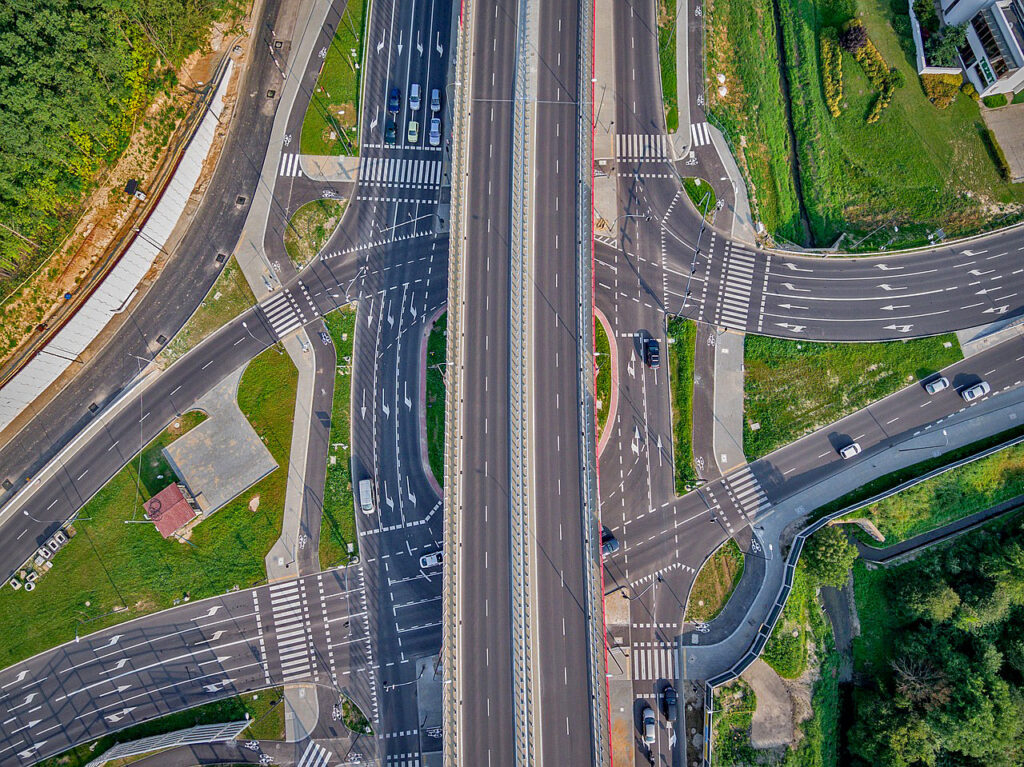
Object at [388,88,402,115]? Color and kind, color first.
blue car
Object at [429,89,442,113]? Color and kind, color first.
blue vehicle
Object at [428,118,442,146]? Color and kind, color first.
blue car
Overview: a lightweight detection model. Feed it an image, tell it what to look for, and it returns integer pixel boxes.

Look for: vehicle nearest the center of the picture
[644,339,659,367]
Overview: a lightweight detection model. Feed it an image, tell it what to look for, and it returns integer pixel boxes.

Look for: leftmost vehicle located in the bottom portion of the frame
[358,479,375,515]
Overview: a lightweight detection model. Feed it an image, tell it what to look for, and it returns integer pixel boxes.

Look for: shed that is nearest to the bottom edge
[142,480,209,538]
